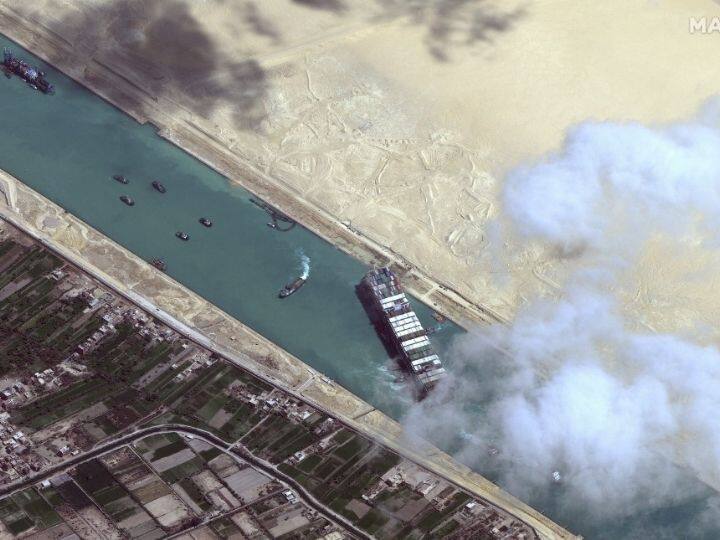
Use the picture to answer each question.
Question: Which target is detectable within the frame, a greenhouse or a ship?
ship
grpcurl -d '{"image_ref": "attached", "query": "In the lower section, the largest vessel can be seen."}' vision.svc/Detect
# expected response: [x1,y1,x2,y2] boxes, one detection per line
[371,271,452,405]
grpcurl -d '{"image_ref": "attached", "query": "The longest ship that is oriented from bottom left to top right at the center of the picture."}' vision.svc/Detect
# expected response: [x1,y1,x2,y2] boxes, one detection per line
[280,277,307,296]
